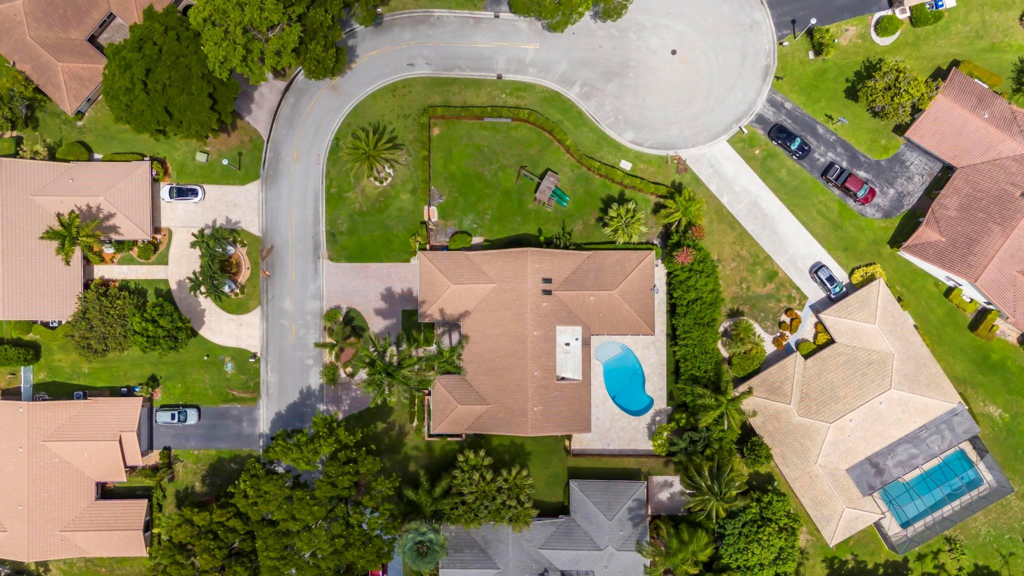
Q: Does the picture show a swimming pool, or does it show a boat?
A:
swimming pool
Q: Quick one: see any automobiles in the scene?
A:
Yes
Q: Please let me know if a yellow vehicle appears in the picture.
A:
No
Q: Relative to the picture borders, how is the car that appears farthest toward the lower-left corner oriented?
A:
from side to side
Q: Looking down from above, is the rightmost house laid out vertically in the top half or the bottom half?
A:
top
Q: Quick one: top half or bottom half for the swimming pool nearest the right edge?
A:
bottom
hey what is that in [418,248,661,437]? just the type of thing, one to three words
house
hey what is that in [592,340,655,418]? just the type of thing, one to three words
swimming pool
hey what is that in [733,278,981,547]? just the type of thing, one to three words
house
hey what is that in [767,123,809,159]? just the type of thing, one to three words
car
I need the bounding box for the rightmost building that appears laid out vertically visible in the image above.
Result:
[896,66,1024,336]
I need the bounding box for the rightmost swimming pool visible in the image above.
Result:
[879,447,986,530]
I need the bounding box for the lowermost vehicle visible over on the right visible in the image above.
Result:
[810,261,844,302]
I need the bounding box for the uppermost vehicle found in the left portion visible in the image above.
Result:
[162,182,203,204]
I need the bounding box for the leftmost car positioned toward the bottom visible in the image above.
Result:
[153,405,200,427]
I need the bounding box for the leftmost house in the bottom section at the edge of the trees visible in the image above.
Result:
[0,396,154,562]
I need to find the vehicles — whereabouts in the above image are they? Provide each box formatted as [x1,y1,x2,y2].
[810,261,844,302]
[370,563,389,576]
[822,163,873,203]
[162,182,203,204]
[153,405,200,427]
[767,123,809,159]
